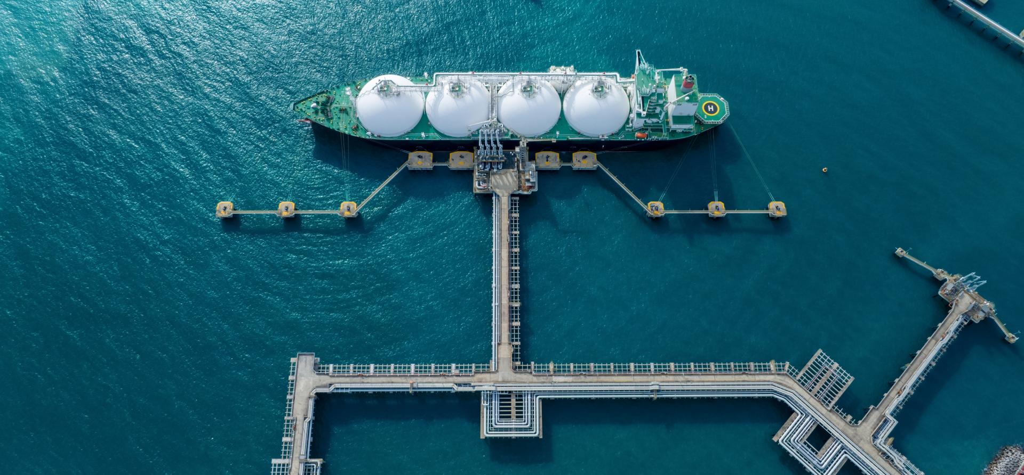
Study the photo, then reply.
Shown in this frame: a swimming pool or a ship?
ship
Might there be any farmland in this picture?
No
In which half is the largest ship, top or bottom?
top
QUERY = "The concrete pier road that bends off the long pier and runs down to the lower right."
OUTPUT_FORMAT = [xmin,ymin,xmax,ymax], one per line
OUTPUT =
[770,366,922,475]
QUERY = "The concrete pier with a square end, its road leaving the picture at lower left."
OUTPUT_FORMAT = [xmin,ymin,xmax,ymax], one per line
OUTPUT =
[269,352,326,475]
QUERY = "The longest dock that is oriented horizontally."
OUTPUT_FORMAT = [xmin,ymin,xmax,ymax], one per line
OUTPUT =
[316,359,790,401]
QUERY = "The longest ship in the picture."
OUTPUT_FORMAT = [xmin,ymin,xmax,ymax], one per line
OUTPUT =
[289,50,730,150]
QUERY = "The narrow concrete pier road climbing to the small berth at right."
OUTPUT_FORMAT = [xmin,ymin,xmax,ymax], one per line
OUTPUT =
[864,292,974,419]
